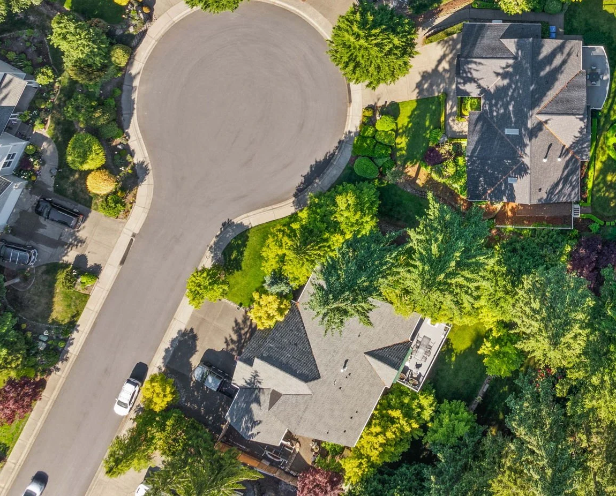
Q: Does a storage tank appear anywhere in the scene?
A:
No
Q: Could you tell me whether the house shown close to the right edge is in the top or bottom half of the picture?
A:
top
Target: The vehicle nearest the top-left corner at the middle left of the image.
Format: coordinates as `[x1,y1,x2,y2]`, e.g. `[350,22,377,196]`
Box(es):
[34,196,85,231]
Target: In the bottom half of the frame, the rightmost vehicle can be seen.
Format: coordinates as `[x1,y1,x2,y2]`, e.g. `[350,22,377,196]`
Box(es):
[190,359,239,397]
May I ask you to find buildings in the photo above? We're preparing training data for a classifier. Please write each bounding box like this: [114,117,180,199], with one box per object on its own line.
[455,19,591,205]
[0,60,28,229]
[217,259,426,448]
